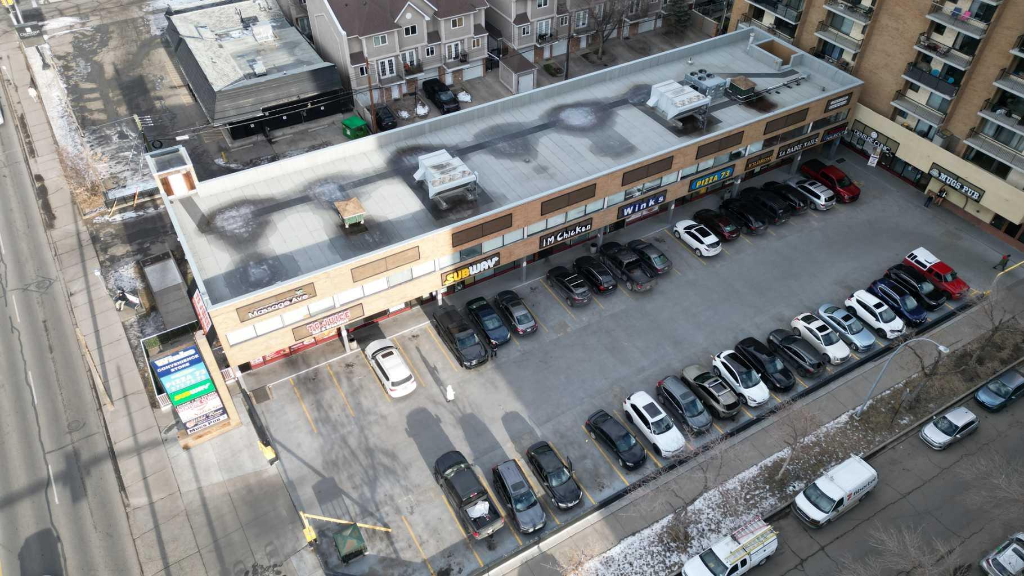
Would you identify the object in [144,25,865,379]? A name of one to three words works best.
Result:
building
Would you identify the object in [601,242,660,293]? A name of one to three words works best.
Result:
truck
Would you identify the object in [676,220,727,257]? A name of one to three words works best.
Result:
car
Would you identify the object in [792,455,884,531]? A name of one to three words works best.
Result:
van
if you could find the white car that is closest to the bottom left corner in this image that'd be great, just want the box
[371,341,417,394]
